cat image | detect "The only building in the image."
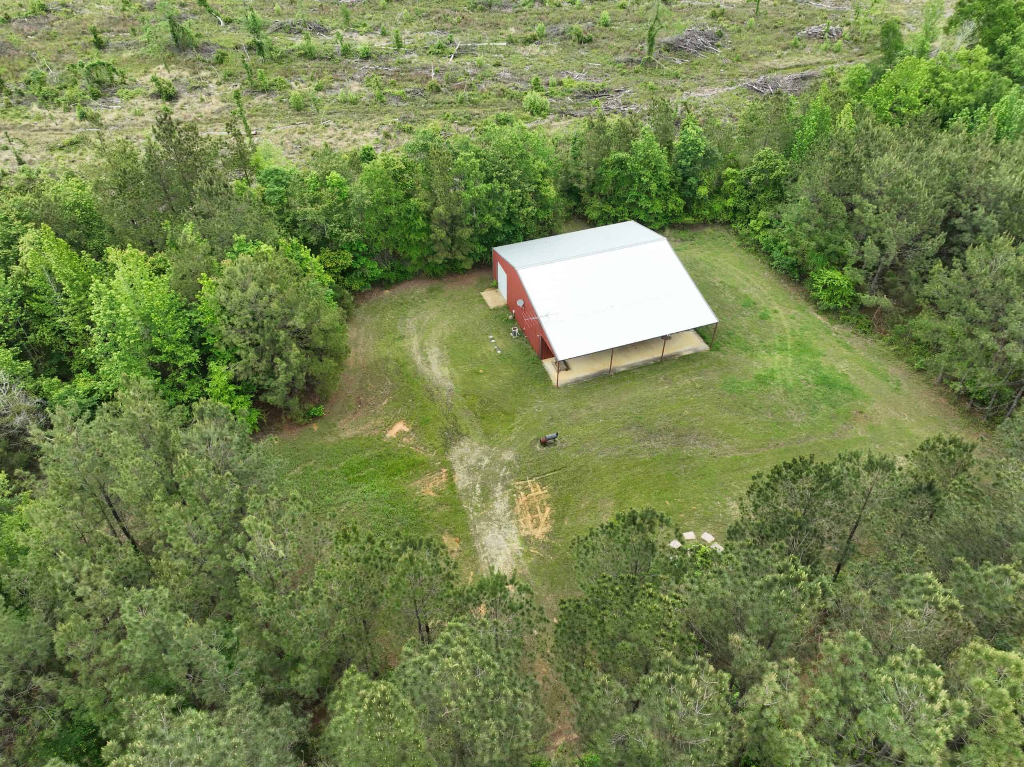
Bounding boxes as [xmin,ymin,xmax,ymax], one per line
[480,220,719,387]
